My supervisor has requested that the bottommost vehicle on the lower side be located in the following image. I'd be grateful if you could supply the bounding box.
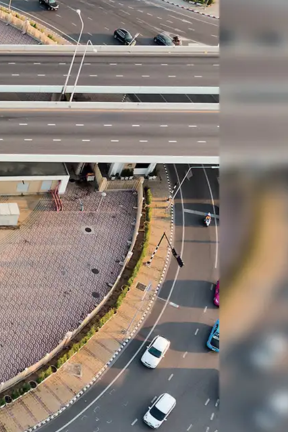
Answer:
[145,393,177,427]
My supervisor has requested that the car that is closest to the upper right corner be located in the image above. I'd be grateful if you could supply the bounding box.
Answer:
[152,34,177,46]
